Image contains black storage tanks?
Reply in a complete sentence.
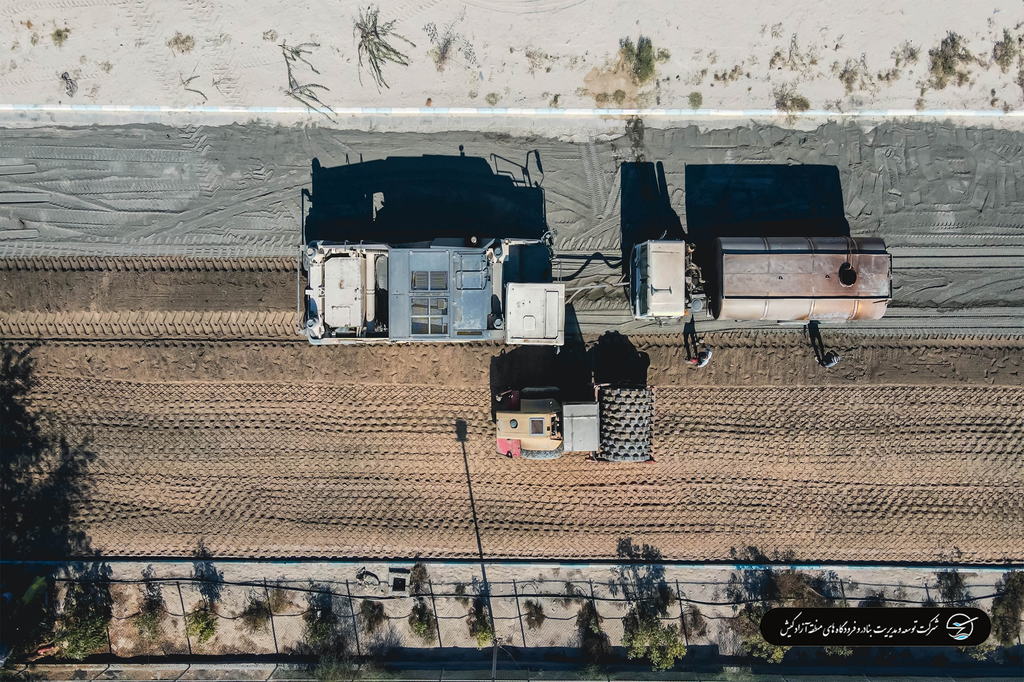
No, this view has no black storage tank in it.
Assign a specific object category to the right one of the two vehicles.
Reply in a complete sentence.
It looks like the right one of the two vehicles is a truck.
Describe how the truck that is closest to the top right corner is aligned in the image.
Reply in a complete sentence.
What the image shows is the truck that is closest to the top right corner lying from left to right.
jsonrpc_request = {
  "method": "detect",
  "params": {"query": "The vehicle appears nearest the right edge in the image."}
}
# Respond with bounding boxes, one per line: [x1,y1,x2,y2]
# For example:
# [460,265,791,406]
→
[617,229,894,327]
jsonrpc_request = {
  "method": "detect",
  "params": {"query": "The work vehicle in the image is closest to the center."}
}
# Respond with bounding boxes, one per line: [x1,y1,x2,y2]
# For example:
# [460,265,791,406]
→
[494,380,658,464]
